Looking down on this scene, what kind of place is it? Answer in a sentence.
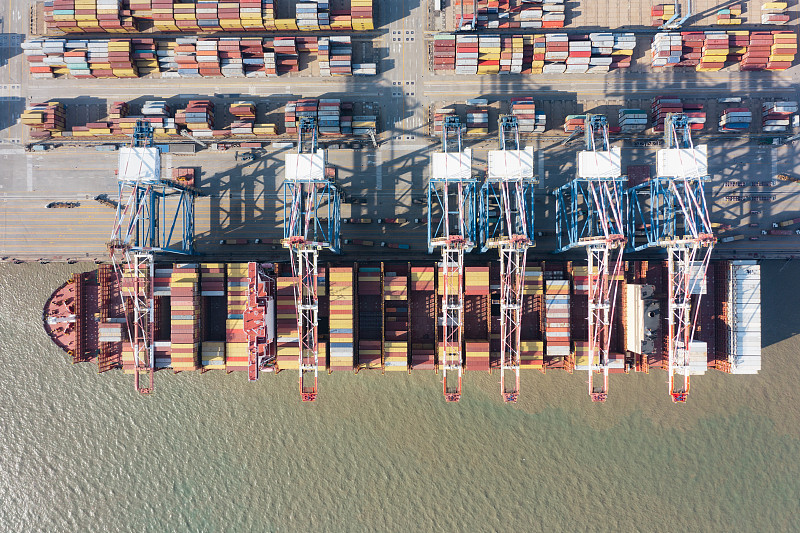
The picture captures a port.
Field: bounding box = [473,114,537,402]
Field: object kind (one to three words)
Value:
container crane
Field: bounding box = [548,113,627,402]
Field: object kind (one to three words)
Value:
container crane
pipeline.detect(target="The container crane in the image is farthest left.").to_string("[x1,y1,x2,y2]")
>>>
[105,119,204,395]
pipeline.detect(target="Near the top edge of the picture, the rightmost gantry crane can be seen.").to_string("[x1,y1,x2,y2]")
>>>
[655,0,696,30]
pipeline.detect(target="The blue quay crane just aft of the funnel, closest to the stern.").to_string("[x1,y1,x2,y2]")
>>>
[619,112,718,402]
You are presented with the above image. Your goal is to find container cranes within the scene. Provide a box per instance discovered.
[473,114,537,402]
[281,116,345,402]
[105,119,204,395]
[619,112,718,402]
[655,0,696,30]
[423,114,477,402]
[548,113,627,402]
[457,0,479,31]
